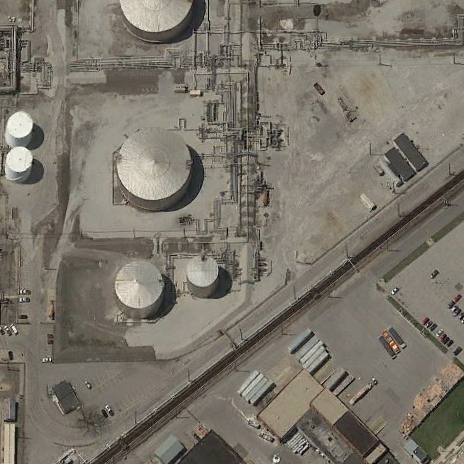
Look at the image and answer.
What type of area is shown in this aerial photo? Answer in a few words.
industrial area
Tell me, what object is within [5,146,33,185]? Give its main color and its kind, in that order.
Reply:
white storage tank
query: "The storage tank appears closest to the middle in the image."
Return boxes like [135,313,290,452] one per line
[186,253,219,299]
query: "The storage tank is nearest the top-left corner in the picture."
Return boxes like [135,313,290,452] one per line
[6,111,34,148]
